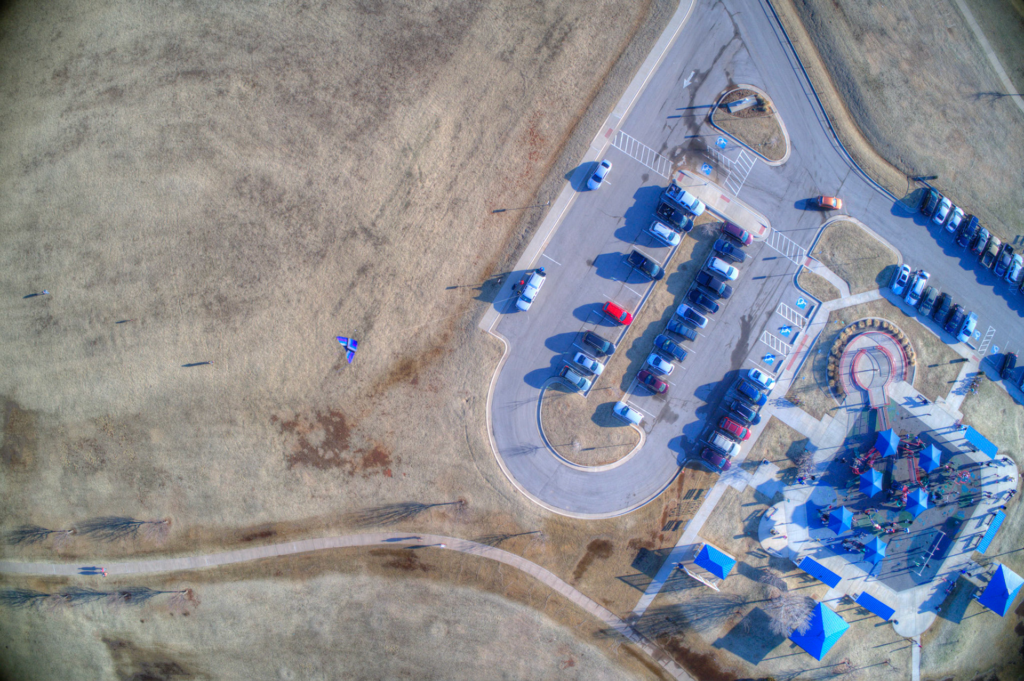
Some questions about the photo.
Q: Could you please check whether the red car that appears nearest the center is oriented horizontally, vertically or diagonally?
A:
diagonally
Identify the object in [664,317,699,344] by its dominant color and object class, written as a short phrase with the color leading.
blue truck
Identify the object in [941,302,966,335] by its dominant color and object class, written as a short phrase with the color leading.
blue car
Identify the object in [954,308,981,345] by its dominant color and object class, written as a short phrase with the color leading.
blue truck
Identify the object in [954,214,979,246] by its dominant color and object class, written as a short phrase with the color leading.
blue car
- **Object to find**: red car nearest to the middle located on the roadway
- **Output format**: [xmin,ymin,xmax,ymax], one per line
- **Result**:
[601,300,633,327]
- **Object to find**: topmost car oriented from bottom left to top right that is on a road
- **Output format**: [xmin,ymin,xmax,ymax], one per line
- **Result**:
[587,158,613,191]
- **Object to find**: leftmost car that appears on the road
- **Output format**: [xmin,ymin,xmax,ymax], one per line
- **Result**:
[517,268,547,309]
